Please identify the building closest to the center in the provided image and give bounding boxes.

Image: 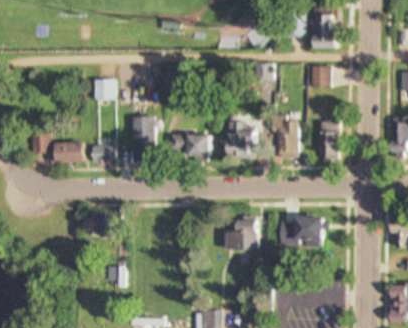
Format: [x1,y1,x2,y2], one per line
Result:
[171,130,212,162]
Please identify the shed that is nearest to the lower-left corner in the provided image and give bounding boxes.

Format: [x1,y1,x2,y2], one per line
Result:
[108,264,130,289]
